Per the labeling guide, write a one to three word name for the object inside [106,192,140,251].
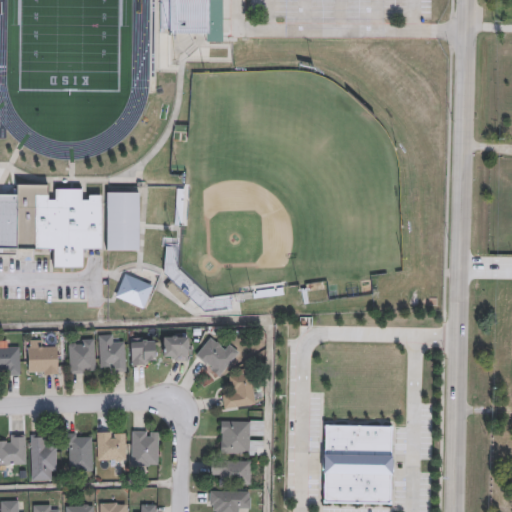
building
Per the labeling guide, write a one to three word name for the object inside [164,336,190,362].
house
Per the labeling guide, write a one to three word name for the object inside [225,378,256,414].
house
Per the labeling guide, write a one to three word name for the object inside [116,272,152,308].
building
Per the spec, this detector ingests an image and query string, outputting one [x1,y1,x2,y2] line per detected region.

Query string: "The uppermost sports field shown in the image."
[7,0,133,142]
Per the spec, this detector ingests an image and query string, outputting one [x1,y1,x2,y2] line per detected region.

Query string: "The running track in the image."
[0,0,150,159]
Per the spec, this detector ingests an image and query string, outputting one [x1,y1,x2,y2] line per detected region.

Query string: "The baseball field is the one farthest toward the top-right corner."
[178,69,402,297]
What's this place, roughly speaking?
sports ground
